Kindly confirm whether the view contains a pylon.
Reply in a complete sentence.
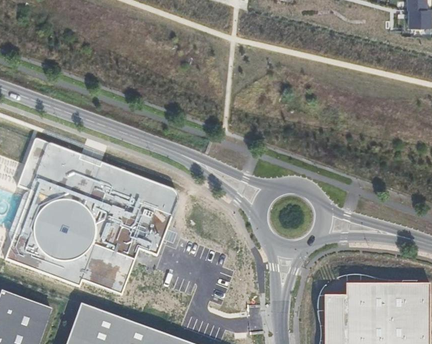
No, no pylon can be seen from above.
